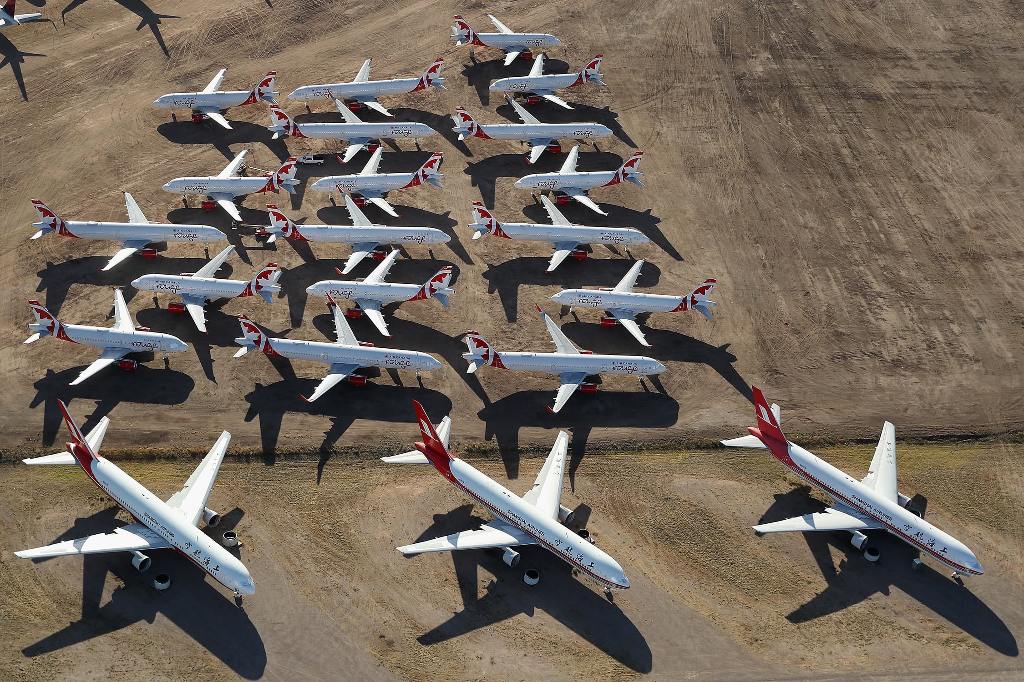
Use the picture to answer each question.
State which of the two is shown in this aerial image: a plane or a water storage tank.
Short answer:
plane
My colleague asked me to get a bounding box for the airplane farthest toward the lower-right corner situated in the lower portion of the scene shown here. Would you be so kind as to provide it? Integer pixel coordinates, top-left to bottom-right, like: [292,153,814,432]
[722,386,981,579]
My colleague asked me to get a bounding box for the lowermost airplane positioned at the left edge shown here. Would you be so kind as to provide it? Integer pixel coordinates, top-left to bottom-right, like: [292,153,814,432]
[15,399,257,599]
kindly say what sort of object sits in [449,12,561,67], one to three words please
airplane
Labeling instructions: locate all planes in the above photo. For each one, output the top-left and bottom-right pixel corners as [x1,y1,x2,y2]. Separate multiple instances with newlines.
[552,258,716,348]
[449,12,561,67]
[25,287,188,387]
[162,147,301,223]
[722,386,981,579]
[467,192,649,273]
[289,57,447,118]
[311,144,445,218]
[305,247,456,338]
[490,51,605,110]
[515,143,644,216]
[153,66,281,130]
[383,399,632,595]
[15,399,257,599]
[31,189,226,273]
[263,185,451,274]
[233,293,442,402]
[267,90,435,163]
[131,243,283,334]
[451,91,613,163]
[0,0,45,26]
[461,303,666,412]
